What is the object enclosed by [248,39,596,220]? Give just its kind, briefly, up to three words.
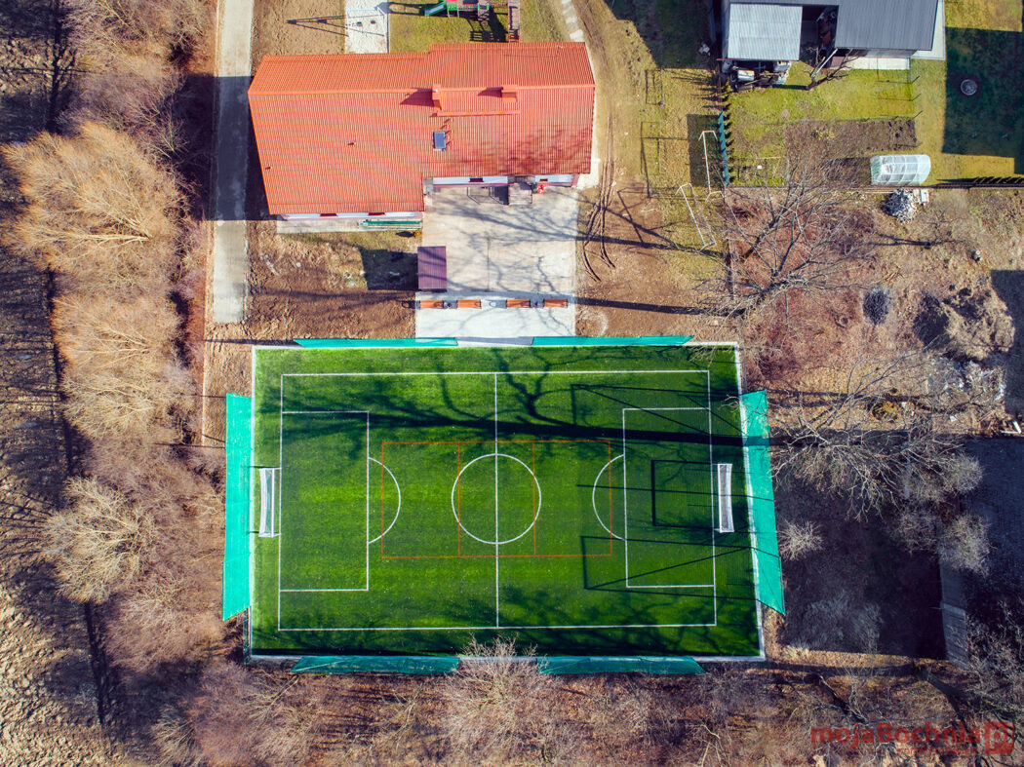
house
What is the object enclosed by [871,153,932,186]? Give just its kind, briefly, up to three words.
greenhouse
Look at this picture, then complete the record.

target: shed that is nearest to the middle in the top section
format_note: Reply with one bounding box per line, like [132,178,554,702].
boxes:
[418,247,447,294]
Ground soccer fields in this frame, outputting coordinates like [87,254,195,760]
[247,343,765,661]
